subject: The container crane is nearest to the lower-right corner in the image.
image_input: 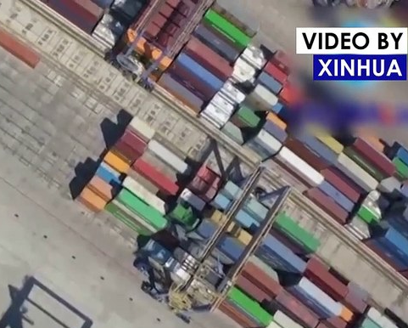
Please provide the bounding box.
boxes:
[146,166,299,308]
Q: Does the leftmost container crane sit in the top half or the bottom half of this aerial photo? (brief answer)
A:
top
